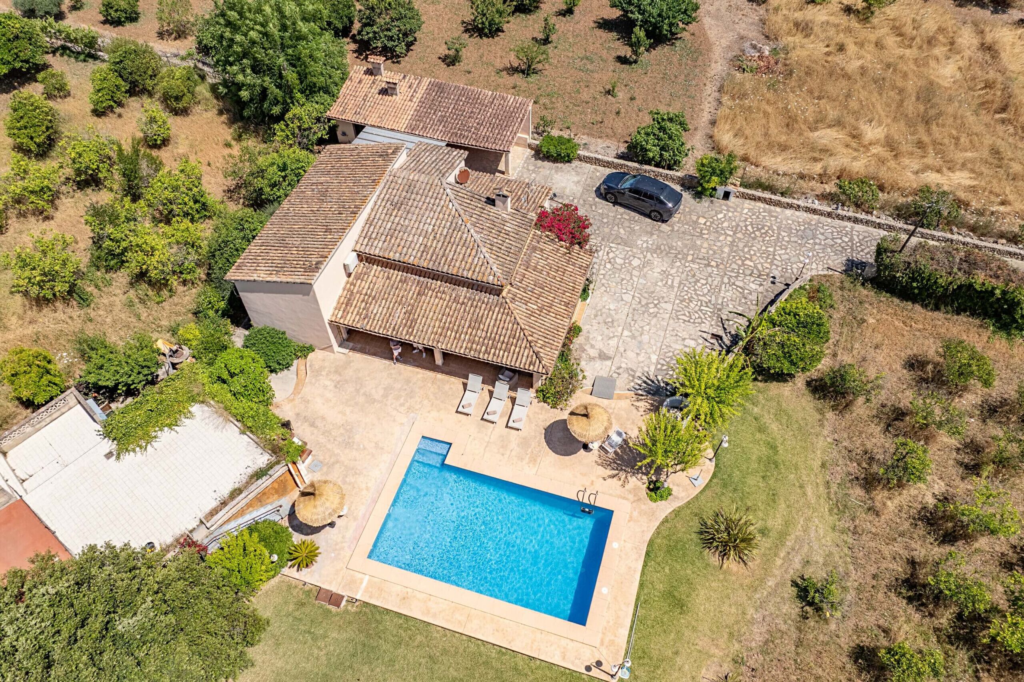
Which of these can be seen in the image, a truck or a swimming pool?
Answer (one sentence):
Looking from above, you can make out a swimming pool.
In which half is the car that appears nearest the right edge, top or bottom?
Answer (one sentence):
The top half of the photo is where the car that appears nearest the right edge is.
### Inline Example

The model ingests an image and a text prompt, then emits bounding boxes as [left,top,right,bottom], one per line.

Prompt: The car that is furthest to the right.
[599,170,687,223]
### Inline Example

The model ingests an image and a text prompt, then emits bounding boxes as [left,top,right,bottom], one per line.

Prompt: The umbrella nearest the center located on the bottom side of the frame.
[567,407,612,455]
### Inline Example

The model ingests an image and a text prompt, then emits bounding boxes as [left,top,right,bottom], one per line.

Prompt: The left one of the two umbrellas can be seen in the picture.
[294,482,347,532]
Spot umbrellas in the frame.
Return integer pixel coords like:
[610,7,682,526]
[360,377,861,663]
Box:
[294,482,347,532]
[567,407,612,455]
